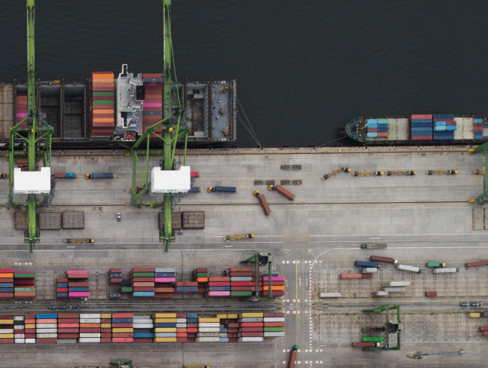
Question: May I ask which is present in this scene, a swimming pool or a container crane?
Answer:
container crane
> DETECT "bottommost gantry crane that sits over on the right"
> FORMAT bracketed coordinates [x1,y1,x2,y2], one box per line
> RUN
[361,303,404,352]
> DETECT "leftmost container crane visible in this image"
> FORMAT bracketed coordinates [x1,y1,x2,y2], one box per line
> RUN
[0,0,57,255]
